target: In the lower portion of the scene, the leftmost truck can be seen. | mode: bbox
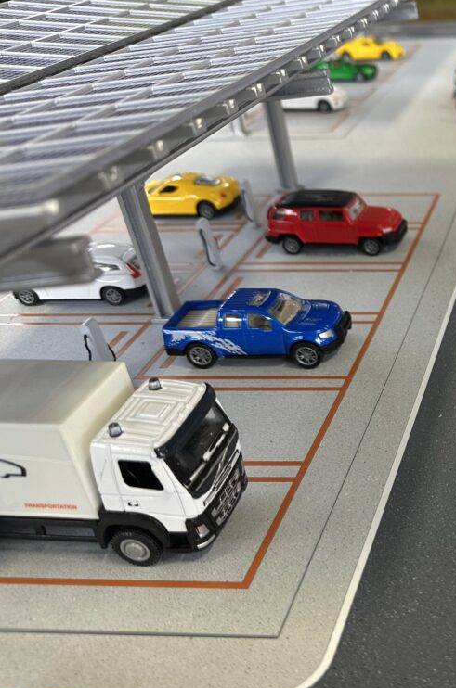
[0,363,252,567]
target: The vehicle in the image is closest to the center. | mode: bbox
[161,283,352,366]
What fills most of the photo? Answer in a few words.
paved ground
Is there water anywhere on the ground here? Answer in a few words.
No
